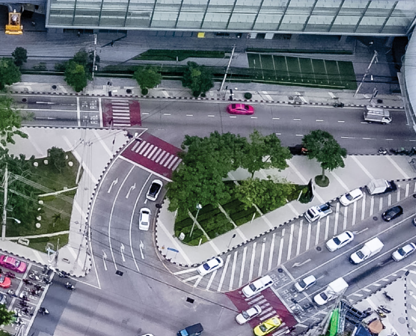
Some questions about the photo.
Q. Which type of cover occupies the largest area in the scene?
paved ground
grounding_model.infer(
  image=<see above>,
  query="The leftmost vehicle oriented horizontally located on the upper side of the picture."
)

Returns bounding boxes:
[227,104,254,116]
